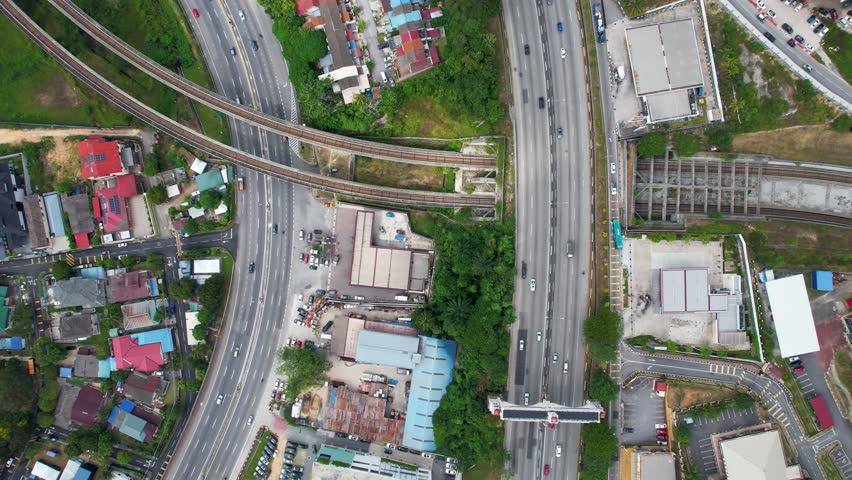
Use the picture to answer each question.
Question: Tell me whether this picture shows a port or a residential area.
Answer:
residential area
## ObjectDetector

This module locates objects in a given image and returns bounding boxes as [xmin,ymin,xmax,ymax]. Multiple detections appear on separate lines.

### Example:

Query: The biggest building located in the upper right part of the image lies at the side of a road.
[622,18,704,99]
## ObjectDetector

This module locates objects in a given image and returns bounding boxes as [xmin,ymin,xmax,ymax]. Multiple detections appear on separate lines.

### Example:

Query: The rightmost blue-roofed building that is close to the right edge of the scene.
[807,271,835,291]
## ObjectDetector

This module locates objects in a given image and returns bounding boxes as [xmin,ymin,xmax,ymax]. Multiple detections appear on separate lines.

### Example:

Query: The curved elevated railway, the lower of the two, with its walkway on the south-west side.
[0,0,496,207]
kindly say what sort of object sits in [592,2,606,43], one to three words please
vehicle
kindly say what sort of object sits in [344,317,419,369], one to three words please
building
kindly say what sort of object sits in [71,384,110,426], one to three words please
house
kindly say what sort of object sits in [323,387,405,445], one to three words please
shed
